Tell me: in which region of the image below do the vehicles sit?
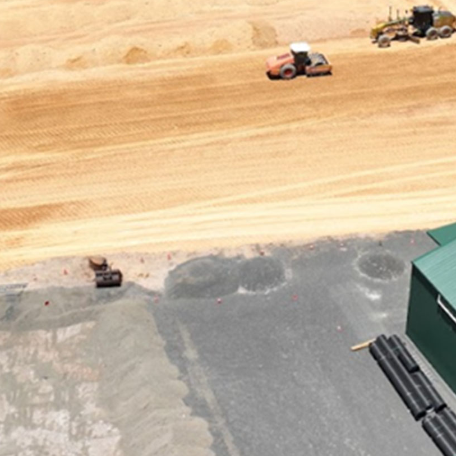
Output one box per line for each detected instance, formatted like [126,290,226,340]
[268,36,335,79]
[368,0,456,46]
